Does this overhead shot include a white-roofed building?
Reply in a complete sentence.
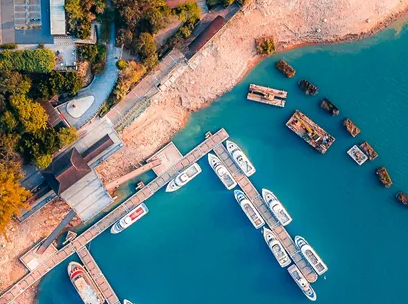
Yes, I can see a white-roofed building in this picture.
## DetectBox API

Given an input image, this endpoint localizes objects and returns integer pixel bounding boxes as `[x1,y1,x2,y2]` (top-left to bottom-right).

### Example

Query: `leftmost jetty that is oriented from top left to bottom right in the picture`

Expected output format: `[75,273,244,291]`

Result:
[73,248,117,304]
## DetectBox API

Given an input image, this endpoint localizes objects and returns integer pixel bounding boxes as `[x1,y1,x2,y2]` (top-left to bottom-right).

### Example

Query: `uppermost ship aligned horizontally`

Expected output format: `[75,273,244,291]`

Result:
[245,82,288,108]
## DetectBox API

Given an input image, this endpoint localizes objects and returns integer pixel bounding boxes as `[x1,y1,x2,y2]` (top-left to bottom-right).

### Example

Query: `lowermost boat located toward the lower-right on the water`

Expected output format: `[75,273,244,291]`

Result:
[287,263,316,303]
